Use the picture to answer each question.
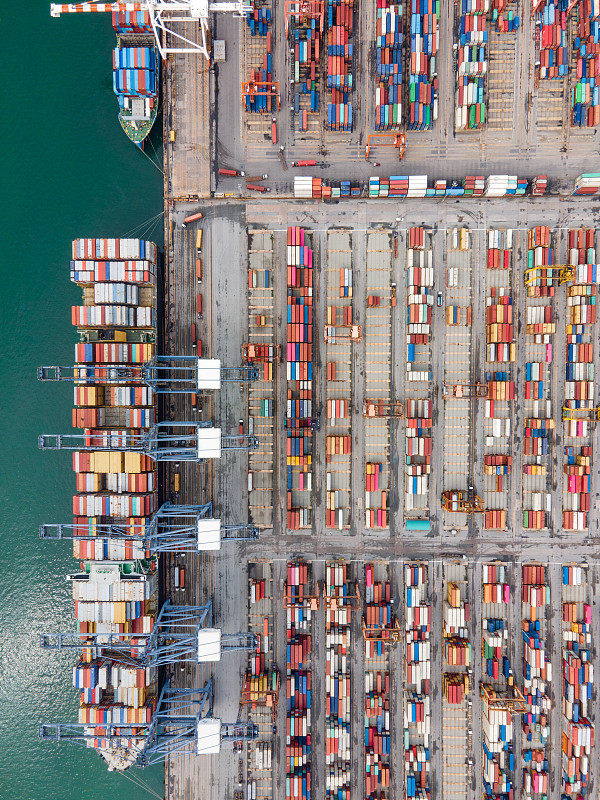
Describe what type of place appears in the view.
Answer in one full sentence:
This image shows a port.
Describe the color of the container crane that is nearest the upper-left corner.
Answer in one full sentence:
In this view, the container crane that is nearest the upper-left corner is white.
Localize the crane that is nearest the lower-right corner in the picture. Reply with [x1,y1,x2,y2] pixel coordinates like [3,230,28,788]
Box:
[478,681,527,712]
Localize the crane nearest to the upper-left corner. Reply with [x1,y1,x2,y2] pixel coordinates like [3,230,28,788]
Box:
[51,0,248,69]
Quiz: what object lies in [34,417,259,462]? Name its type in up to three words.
container crane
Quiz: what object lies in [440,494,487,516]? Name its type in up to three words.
container crane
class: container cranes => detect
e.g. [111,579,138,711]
[320,584,362,609]
[34,496,259,552]
[440,494,487,516]
[34,356,259,399]
[51,0,248,69]
[322,324,363,344]
[360,614,404,641]
[441,382,488,401]
[238,675,278,705]
[280,584,320,609]
[363,133,407,162]
[523,265,574,288]
[242,342,282,362]
[478,681,527,712]
[241,82,281,113]
[284,1,323,38]
[284,415,323,434]
[34,417,259,462]
[34,593,259,673]
[34,672,259,770]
